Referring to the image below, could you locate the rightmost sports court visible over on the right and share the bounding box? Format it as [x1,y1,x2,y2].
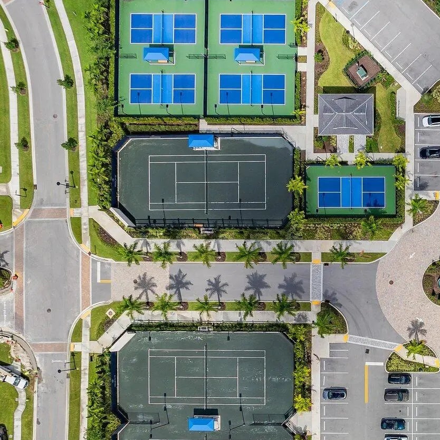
[306,165,396,214]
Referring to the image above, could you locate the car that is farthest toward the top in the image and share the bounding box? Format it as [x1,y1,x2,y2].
[422,114,440,127]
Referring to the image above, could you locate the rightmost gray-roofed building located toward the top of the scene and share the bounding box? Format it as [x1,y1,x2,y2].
[318,93,376,137]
